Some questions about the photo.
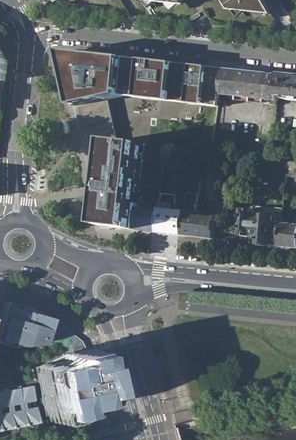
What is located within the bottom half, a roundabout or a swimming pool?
roundabout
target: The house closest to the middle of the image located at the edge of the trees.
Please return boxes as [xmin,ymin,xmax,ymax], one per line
[151,206,180,235]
